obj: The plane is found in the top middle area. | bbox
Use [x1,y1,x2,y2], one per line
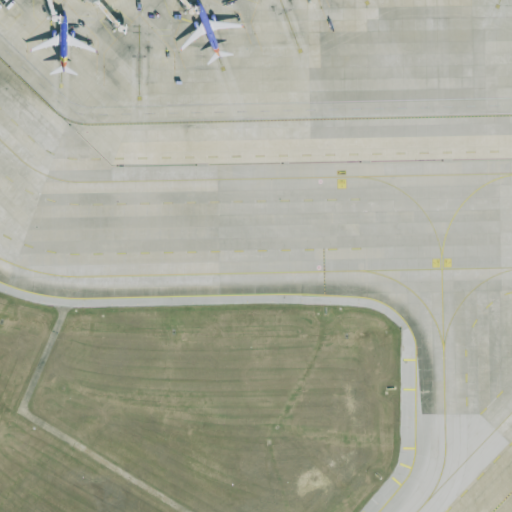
[181,0,244,64]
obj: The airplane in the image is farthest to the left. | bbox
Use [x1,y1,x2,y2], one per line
[30,10,96,74]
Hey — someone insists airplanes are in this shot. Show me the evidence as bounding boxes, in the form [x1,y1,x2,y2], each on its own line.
[30,10,96,74]
[181,0,244,64]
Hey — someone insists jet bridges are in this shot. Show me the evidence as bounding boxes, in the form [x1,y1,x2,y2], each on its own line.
[94,0,126,32]
[45,0,62,22]
[179,0,198,15]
